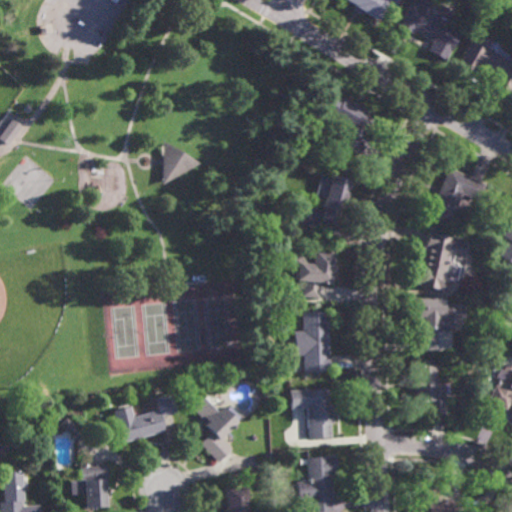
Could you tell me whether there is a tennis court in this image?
Yes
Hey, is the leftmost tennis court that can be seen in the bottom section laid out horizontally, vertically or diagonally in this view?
vertically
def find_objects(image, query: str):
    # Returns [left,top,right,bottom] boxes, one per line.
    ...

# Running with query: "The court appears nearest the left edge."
[6,156,54,208]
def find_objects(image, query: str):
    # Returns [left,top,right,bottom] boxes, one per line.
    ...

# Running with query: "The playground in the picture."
[78,154,126,212]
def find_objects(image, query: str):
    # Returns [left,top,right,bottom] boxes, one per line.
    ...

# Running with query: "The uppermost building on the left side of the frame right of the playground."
[162,144,200,184]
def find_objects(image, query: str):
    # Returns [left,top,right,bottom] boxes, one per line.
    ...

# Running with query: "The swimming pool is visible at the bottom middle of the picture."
[238,386,253,410]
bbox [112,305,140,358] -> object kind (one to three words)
tennis court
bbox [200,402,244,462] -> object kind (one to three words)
house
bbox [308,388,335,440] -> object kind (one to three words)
house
